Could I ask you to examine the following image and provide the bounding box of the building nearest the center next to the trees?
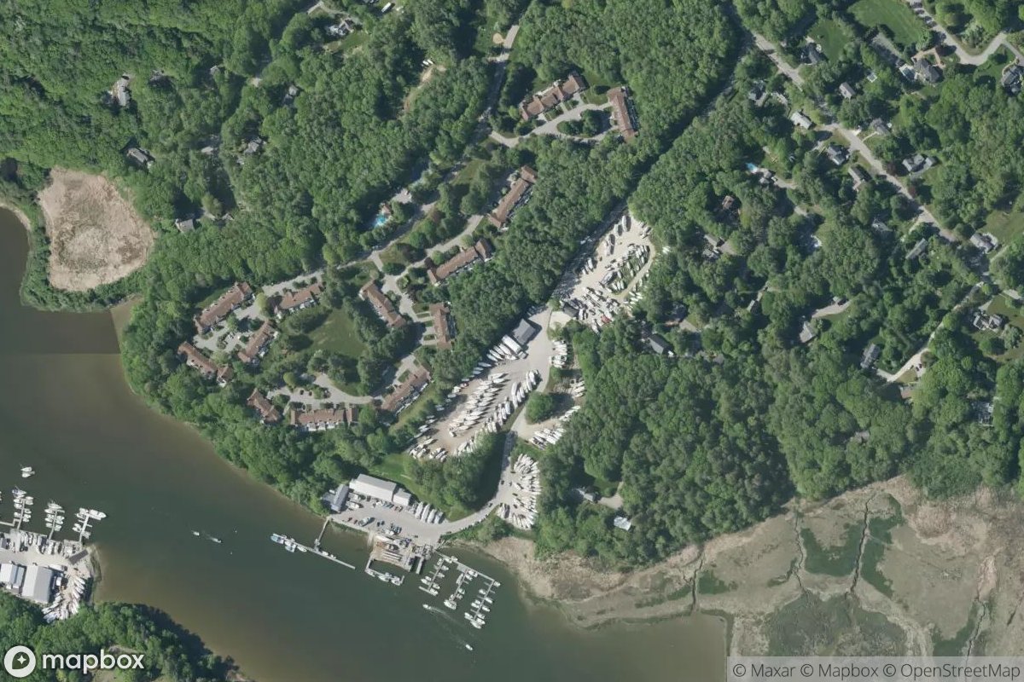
[511,319,537,344]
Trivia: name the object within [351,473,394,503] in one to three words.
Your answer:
shed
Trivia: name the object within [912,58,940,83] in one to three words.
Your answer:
house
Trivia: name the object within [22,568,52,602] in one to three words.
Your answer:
shed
